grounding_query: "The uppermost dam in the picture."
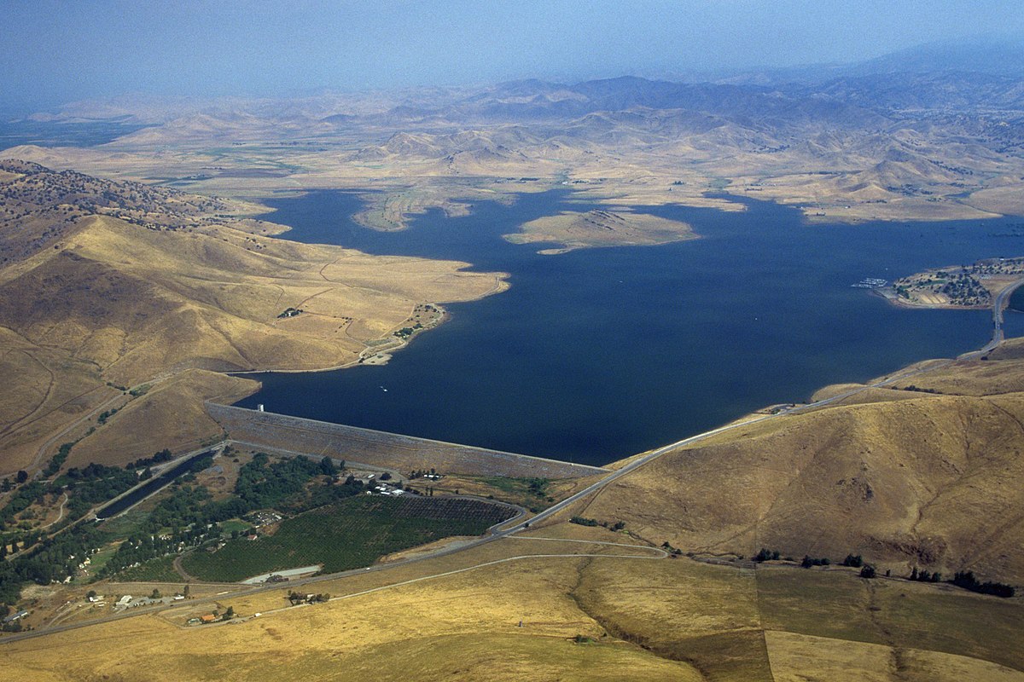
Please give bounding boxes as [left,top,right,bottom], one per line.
[205,401,606,480]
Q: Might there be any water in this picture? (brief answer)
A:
Yes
